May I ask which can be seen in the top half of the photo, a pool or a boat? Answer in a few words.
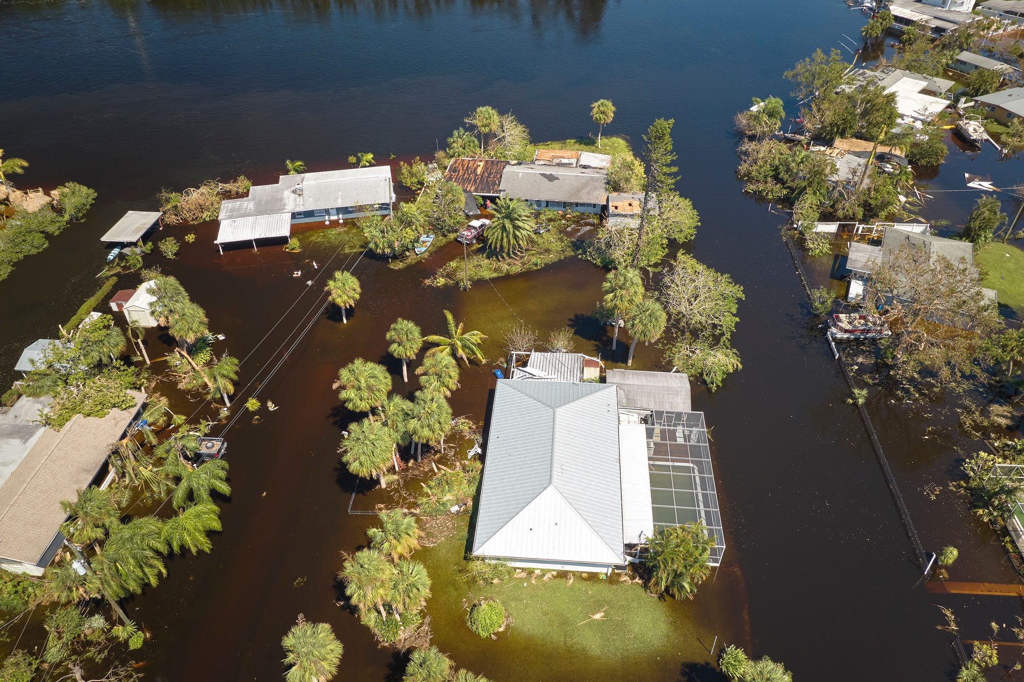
boat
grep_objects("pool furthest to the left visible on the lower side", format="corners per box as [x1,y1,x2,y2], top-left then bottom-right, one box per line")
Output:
[620,435,721,575]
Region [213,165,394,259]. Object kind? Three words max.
house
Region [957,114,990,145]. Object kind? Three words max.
boat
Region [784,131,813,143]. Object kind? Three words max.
boat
